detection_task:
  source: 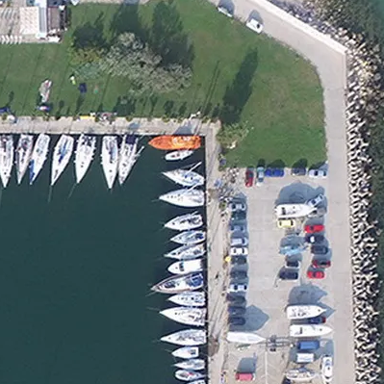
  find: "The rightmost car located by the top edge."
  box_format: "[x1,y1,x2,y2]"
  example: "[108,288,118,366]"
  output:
[246,18,264,33]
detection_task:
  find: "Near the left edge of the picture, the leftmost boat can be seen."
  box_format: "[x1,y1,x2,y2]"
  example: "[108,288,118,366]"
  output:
[0,129,14,201]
